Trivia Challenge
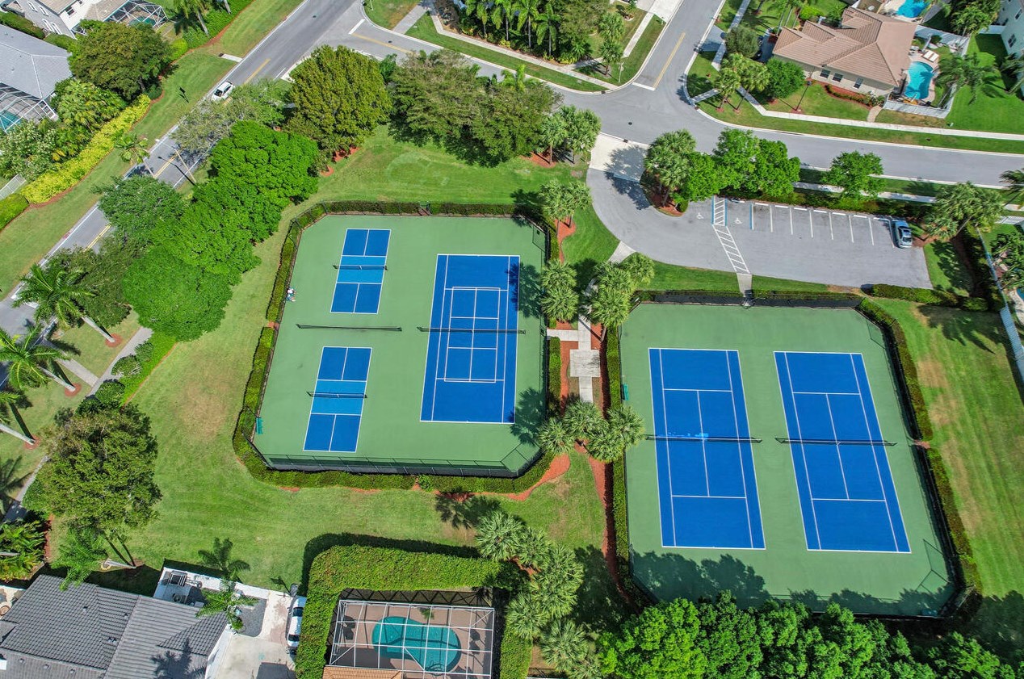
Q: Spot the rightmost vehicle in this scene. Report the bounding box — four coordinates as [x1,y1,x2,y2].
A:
[889,220,915,250]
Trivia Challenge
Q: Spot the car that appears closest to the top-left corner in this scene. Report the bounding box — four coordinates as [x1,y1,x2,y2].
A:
[207,79,234,105]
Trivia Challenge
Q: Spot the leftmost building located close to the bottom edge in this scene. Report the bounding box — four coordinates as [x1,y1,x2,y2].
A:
[0,575,232,679]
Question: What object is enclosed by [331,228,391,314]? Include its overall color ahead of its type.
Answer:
blue sports court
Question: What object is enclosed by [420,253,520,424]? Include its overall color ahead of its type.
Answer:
blue tennis court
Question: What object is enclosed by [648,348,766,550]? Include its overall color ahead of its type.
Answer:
blue tennis court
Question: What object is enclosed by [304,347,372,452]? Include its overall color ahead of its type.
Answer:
blue sports court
